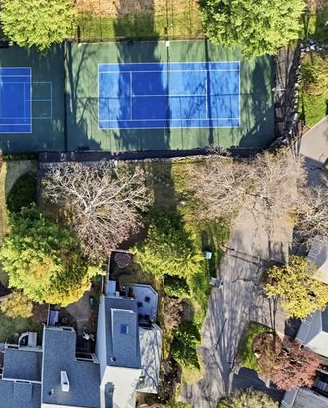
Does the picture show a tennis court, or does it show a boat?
tennis court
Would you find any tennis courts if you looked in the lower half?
No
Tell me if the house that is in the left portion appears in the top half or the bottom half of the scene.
bottom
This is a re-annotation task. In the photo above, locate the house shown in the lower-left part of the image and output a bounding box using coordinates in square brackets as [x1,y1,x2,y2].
[0,278,162,408]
